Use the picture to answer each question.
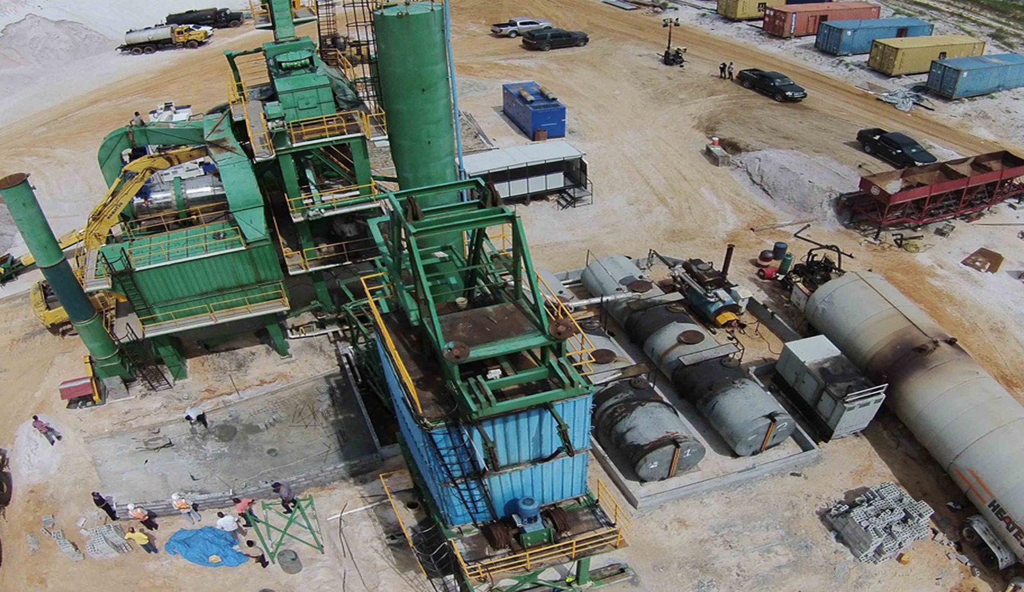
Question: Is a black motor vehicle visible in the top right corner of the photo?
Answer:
Yes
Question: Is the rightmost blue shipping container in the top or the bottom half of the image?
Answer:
top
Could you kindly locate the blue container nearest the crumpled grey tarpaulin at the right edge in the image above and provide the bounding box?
[927,43,1024,99]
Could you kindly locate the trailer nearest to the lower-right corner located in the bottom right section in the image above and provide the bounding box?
[806,270,1024,592]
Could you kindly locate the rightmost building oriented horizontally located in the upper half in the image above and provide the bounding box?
[456,136,597,204]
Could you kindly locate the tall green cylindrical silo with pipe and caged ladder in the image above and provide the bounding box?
[346,0,467,261]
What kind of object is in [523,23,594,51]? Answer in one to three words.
car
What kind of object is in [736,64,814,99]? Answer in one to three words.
truck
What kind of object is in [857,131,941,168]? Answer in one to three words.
truck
